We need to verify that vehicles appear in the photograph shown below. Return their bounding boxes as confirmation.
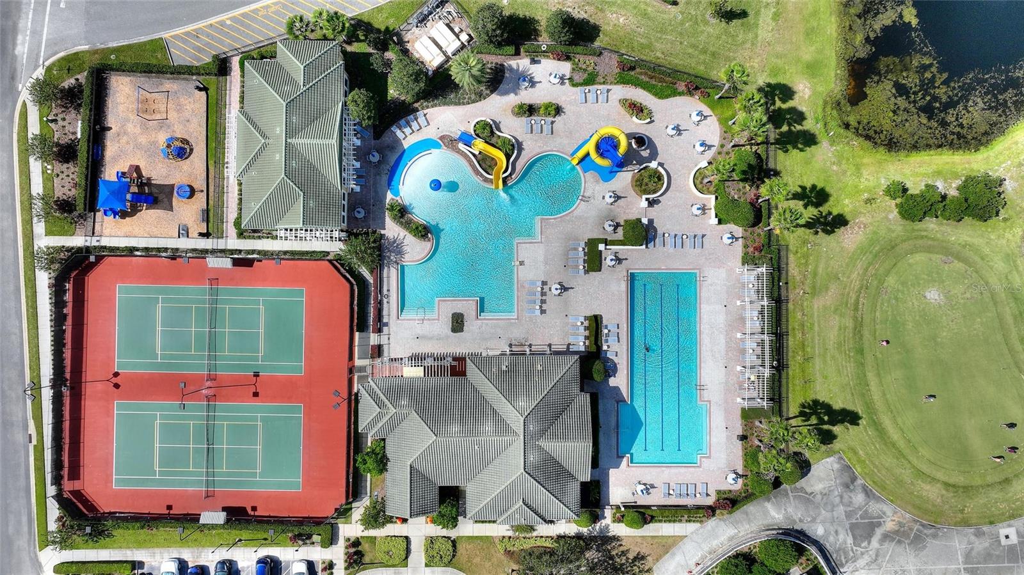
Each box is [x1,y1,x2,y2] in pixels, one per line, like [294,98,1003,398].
[291,558,310,575]
[160,557,181,575]
[253,555,273,575]
[188,564,205,575]
[213,558,233,575]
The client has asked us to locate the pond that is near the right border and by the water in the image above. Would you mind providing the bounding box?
[836,0,1024,147]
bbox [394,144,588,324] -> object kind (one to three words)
swimming pool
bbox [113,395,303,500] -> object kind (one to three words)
tennis court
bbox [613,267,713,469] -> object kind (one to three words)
swimming pool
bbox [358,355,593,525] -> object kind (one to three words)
building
